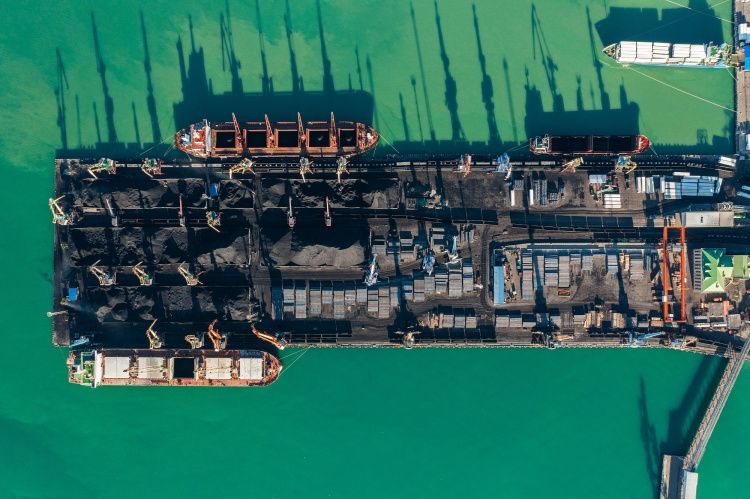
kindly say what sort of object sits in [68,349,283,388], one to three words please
ship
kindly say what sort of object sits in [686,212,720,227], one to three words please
building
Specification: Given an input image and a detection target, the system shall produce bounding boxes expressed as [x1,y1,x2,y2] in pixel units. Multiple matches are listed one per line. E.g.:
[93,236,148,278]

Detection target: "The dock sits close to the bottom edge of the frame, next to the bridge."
[658,454,698,499]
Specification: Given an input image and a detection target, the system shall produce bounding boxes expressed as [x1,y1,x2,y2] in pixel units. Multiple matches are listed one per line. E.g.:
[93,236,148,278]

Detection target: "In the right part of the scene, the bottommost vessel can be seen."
[530,135,650,155]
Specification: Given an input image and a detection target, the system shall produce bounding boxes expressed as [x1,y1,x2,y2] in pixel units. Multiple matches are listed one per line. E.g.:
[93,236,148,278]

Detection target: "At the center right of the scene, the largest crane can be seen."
[655,227,686,322]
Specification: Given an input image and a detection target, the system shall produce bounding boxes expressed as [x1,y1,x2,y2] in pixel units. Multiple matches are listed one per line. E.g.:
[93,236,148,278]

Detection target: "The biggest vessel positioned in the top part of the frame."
[174,112,379,158]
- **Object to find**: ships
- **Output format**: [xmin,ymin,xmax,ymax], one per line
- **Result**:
[174,112,379,158]
[595,40,735,69]
[530,135,650,155]
[68,349,283,388]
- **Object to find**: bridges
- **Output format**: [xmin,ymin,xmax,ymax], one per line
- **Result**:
[688,319,750,470]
